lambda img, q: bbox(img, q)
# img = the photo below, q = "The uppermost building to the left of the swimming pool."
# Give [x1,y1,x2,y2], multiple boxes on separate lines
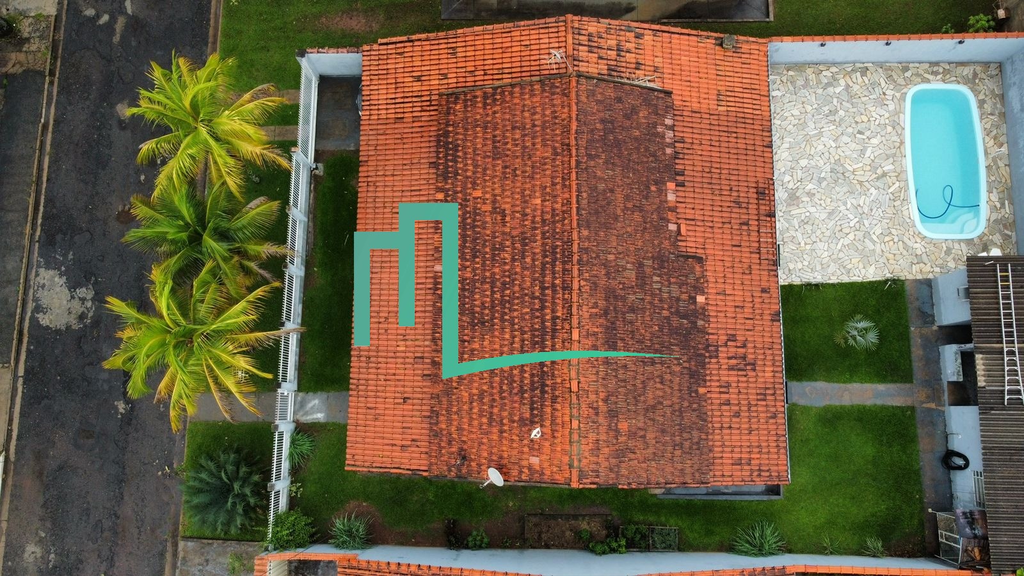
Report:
[347,9,793,493]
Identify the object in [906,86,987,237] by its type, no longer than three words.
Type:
swimming pool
